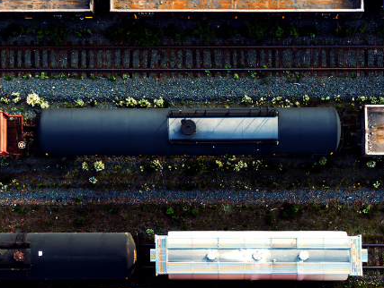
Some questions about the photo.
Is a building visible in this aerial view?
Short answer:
No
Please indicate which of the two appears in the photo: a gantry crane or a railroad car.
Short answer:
railroad car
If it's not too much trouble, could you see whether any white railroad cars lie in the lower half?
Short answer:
Yes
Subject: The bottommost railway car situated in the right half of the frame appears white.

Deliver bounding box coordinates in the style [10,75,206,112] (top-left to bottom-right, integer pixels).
[144,231,373,280]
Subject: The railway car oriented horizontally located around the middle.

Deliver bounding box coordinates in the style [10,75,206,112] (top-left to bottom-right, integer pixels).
[23,106,358,160]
